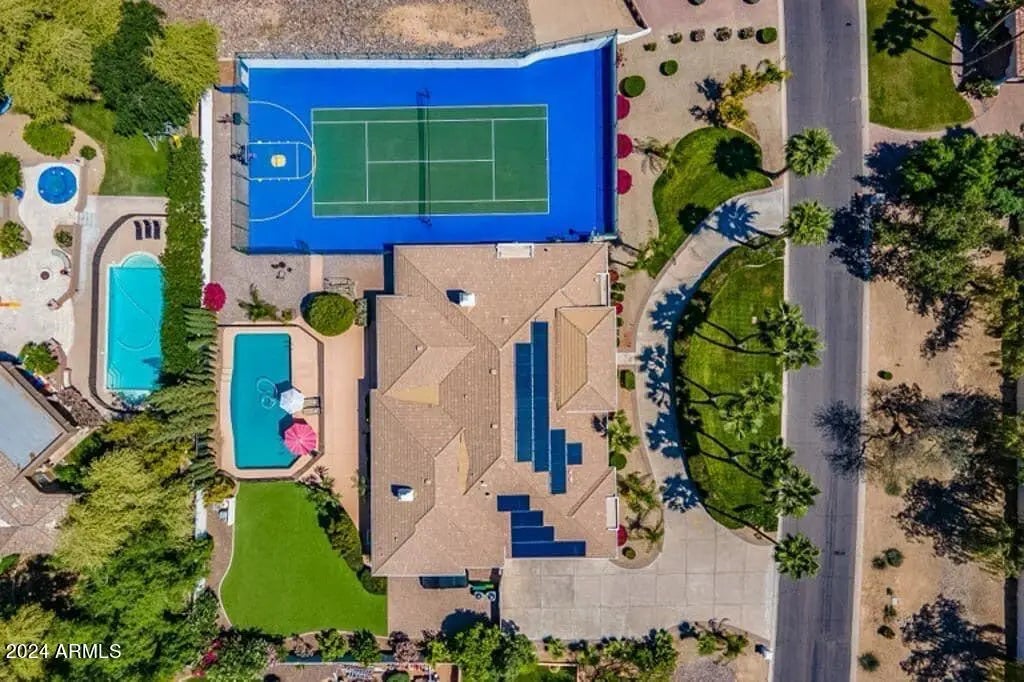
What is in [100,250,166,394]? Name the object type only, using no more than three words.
swimming pool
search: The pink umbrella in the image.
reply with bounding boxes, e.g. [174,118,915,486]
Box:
[285,422,317,454]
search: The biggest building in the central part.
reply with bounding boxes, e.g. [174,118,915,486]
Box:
[370,242,618,578]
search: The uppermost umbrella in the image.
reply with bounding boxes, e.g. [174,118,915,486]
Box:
[280,389,304,414]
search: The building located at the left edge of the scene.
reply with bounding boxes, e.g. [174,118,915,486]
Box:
[0,338,89,555]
